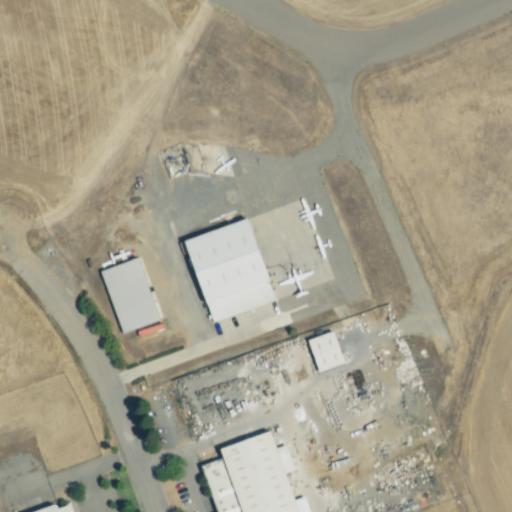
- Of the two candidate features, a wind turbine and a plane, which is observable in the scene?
plane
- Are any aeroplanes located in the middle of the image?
Yes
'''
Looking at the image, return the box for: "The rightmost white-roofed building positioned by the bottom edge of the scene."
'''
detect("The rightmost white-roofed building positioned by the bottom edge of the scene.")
[202,432,311,512]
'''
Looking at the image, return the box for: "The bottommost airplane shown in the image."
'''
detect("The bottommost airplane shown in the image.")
[280,268,314,298]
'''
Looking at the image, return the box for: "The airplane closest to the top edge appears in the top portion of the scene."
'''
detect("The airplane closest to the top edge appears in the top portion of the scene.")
[215,156,236,174]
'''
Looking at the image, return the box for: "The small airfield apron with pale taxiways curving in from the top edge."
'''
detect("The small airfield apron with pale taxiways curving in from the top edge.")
[172,0,512,342]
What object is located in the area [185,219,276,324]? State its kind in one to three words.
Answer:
hangar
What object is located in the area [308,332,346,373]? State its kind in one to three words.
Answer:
shed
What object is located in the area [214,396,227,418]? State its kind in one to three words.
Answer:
vehicle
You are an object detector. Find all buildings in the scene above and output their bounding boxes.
[308,332,346,373]
[27,498,76,512]
[185,219,276,324]
[102,258,163,334]
[202,432,311,512]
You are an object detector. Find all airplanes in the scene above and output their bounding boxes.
[280,268,314,298]
[316,234,334,258]
[215,156,236,174]
[302,198,325,230]
[210,212,236,224]
[102,255,122,266]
